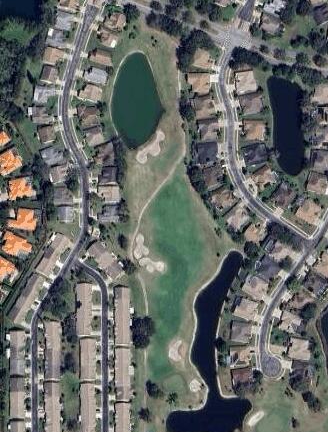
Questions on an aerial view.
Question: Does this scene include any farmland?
No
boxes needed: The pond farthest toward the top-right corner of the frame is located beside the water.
[266,76,306,175]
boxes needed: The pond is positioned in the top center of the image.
[111,51,163,148]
